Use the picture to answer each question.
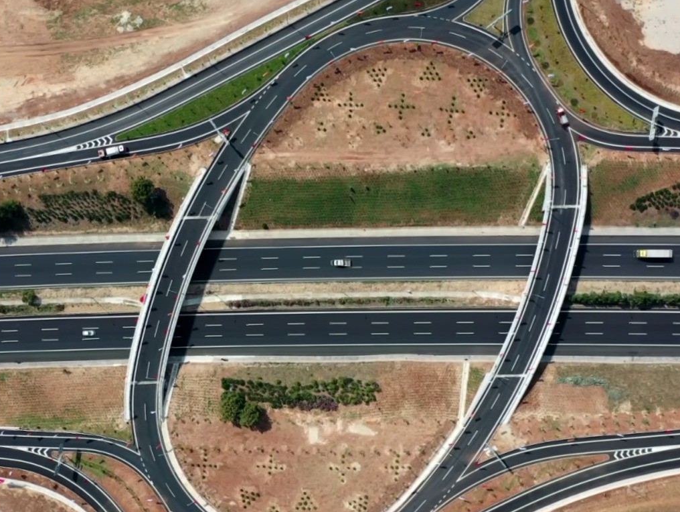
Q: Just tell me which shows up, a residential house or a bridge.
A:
bridge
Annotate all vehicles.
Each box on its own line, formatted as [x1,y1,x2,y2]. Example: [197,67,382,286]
[98,146,126,158]
[632,249,673,259]
[83,330,95,336]
[554,107,568,127]
[334,260,352,266]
